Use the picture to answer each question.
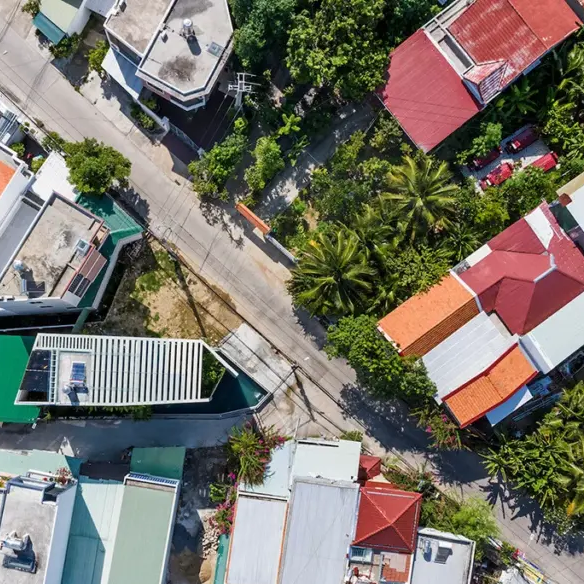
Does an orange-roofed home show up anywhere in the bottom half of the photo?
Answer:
Yes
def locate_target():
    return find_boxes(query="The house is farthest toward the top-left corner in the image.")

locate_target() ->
[30,0,108,53]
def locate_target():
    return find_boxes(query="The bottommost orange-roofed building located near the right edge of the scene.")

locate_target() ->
[432,342,560,433]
